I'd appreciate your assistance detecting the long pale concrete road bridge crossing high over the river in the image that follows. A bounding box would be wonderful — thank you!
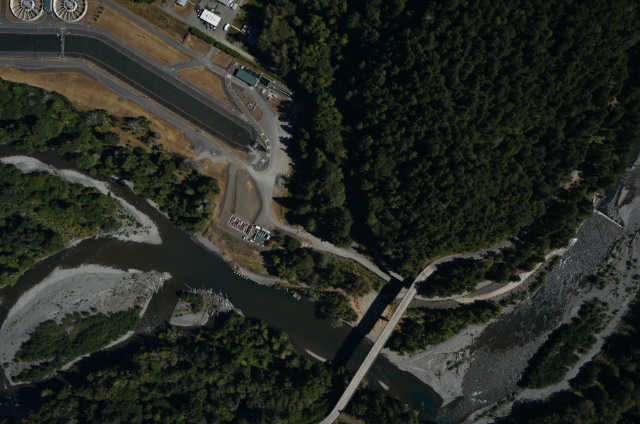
[334,269,428,413]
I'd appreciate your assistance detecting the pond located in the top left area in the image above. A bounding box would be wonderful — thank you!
[0,26,258,151]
